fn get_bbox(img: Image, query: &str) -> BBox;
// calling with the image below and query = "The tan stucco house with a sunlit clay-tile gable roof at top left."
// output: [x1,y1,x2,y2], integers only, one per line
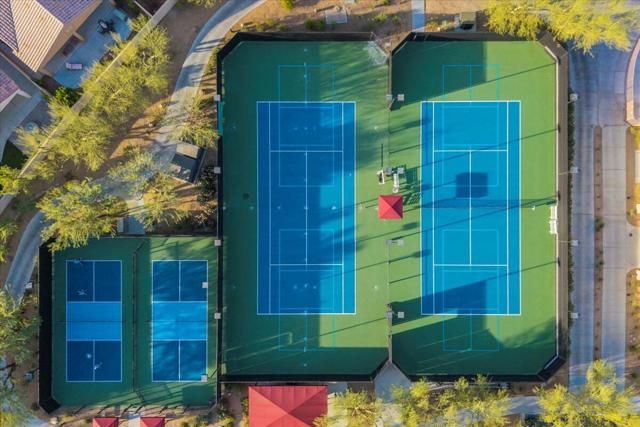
[0,0,103,85]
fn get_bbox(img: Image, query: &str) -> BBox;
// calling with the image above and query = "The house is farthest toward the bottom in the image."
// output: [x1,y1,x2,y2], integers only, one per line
[0,69,32,133]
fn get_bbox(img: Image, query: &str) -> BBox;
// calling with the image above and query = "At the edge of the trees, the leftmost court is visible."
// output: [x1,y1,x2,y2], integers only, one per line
[52,237,134,406]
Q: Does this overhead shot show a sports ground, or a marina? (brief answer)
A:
sports ground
